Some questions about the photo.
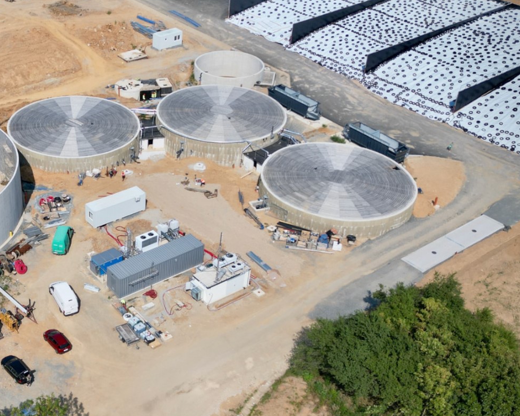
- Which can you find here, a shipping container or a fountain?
shipping container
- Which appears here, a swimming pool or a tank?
tank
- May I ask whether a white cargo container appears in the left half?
Yes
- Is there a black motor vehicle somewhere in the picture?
Yes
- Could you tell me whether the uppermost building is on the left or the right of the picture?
left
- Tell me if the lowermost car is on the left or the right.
left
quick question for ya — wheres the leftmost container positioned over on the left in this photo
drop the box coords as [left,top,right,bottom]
[86,185,146,227]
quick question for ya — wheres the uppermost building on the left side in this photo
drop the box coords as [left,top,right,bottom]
[153,26,183,49]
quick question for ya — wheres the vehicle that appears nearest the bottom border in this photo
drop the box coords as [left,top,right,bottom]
[0,352,34,383]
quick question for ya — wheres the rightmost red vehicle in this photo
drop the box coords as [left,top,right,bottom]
[40,324,72,353]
